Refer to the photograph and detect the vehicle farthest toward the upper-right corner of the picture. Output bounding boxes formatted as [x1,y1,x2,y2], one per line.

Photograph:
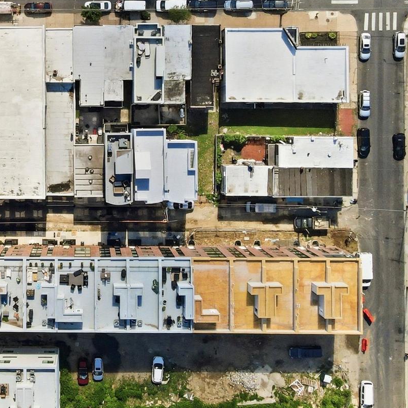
[392,32,406,59]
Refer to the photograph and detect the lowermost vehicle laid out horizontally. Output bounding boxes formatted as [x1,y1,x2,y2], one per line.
[288,346,323,360]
